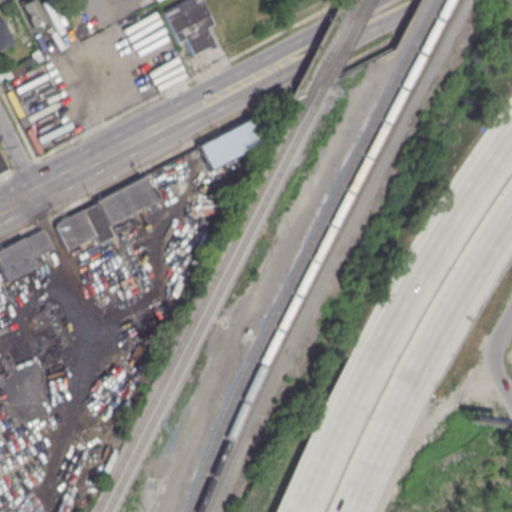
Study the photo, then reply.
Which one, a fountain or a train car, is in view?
train car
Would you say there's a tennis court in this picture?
No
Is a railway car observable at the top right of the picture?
Yes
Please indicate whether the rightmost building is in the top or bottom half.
top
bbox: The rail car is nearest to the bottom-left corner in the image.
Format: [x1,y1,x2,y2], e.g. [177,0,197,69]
[190,474,214,512]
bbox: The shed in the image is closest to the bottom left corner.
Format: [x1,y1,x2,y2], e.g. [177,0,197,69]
[0,230,56,282]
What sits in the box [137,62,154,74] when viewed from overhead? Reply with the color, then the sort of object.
red vehicle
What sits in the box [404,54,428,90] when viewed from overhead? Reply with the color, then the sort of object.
white rail car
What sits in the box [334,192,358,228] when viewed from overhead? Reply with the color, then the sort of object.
white rail car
